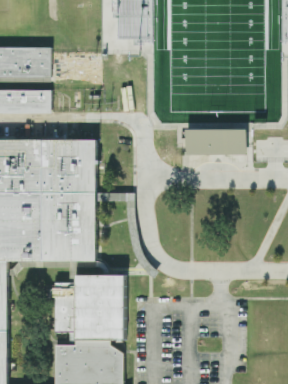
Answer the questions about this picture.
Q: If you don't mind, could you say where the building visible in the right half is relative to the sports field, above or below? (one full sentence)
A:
Within the scene, the building visible in the right half can be found below the sports field.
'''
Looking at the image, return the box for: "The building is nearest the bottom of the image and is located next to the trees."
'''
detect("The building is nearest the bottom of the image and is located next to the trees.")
[57,340,125,384]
